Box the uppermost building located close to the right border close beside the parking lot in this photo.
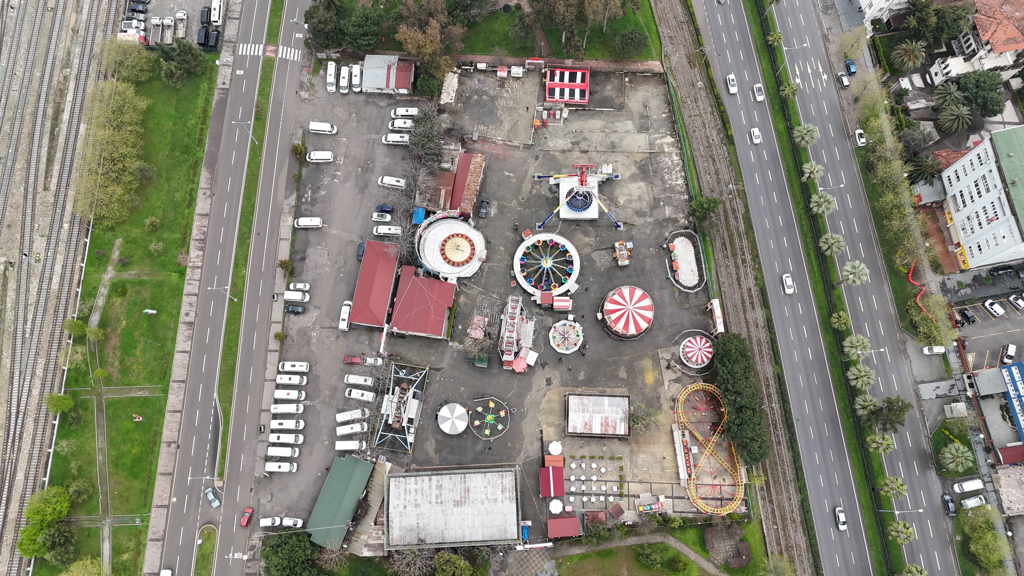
[943,134,1024,269]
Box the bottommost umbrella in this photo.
[549,499,563,514]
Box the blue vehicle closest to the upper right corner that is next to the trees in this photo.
[845,60,857,77]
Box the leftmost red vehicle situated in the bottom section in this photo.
[239,506,255,529]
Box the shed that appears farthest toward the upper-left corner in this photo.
[362,55,415,97]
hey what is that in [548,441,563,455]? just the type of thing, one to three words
umbrella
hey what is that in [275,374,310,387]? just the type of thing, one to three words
vehicle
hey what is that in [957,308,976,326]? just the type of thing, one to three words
car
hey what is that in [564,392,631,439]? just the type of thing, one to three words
building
